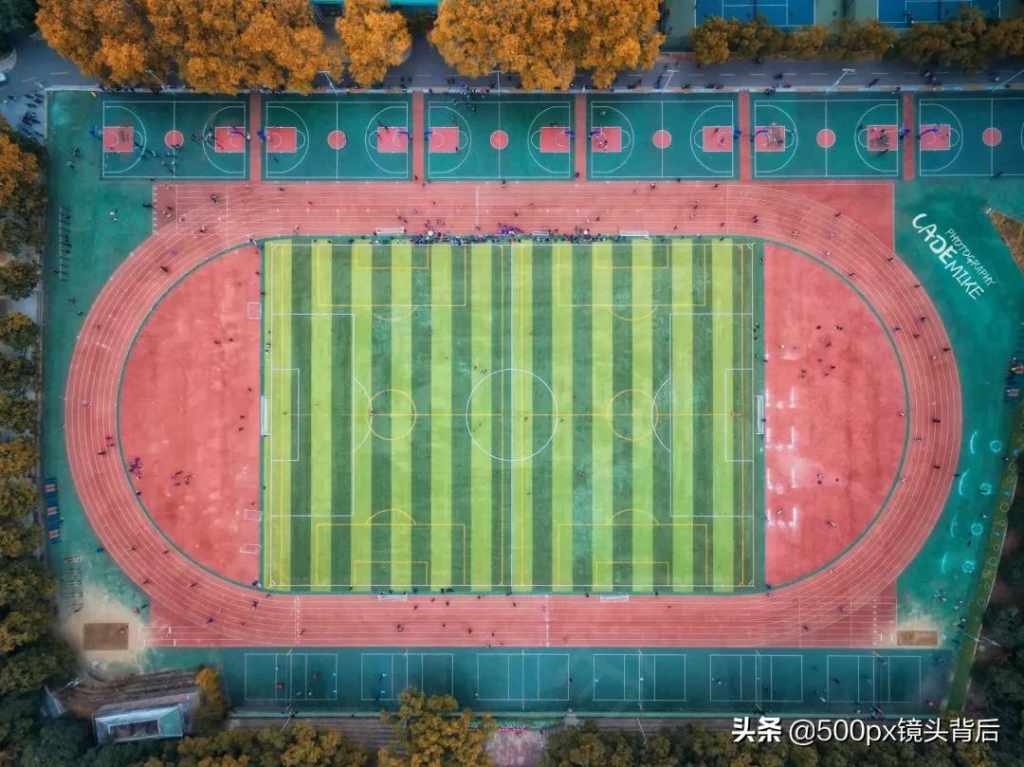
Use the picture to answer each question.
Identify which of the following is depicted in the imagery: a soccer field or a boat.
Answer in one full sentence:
Visible in the photo is a soccer field.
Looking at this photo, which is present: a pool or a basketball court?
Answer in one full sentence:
There is a basketball court in the scene.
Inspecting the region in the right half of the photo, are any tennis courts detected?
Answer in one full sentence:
Yes, there is a tennis court in the right half of the photo.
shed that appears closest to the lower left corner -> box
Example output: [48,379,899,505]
[39,679,68,718]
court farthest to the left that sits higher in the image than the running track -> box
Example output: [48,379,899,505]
[99,92,250,180]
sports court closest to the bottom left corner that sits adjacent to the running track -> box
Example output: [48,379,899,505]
[245,654,336,700]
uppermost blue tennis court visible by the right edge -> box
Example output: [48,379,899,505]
[877,0,1001,30]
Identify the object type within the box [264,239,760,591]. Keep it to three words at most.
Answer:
soccer field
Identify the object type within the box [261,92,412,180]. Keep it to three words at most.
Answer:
basketball court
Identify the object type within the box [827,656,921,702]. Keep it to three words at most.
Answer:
sports court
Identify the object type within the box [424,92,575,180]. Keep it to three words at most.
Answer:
basketball court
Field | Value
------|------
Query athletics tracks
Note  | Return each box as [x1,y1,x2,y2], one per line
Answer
[63,181,963,648]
